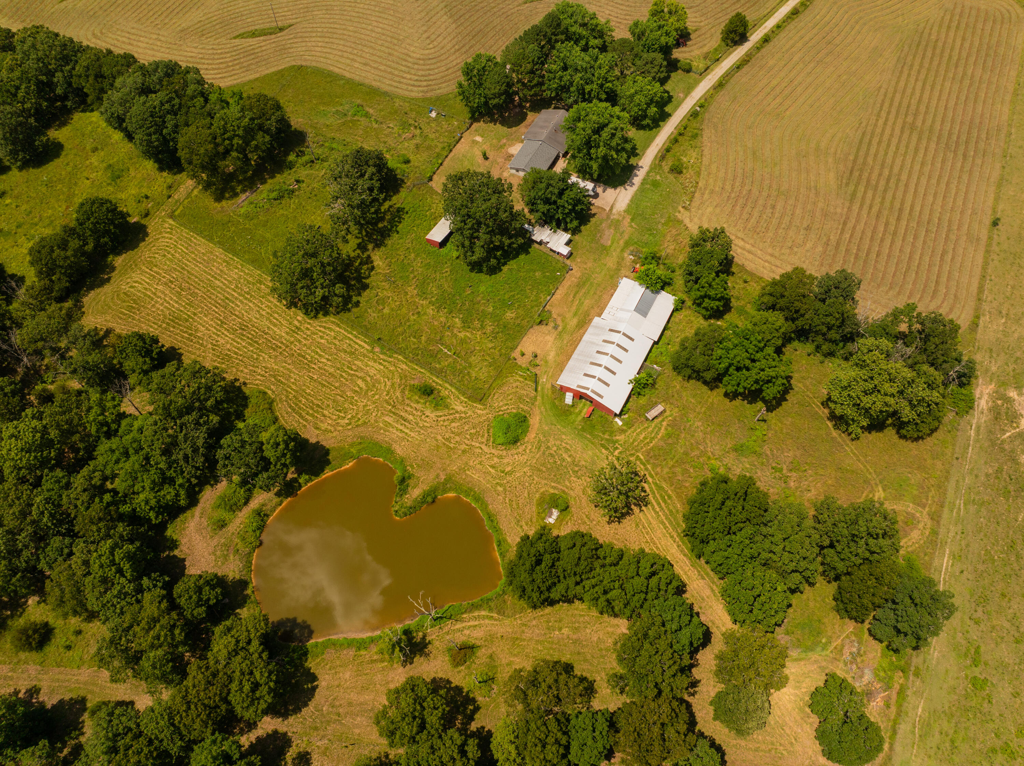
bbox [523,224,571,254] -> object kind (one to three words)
shed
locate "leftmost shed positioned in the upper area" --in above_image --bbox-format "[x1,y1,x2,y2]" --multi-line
[425,215,450,248]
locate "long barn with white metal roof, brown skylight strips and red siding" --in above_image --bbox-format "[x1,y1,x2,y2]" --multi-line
[557,278,680,416]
